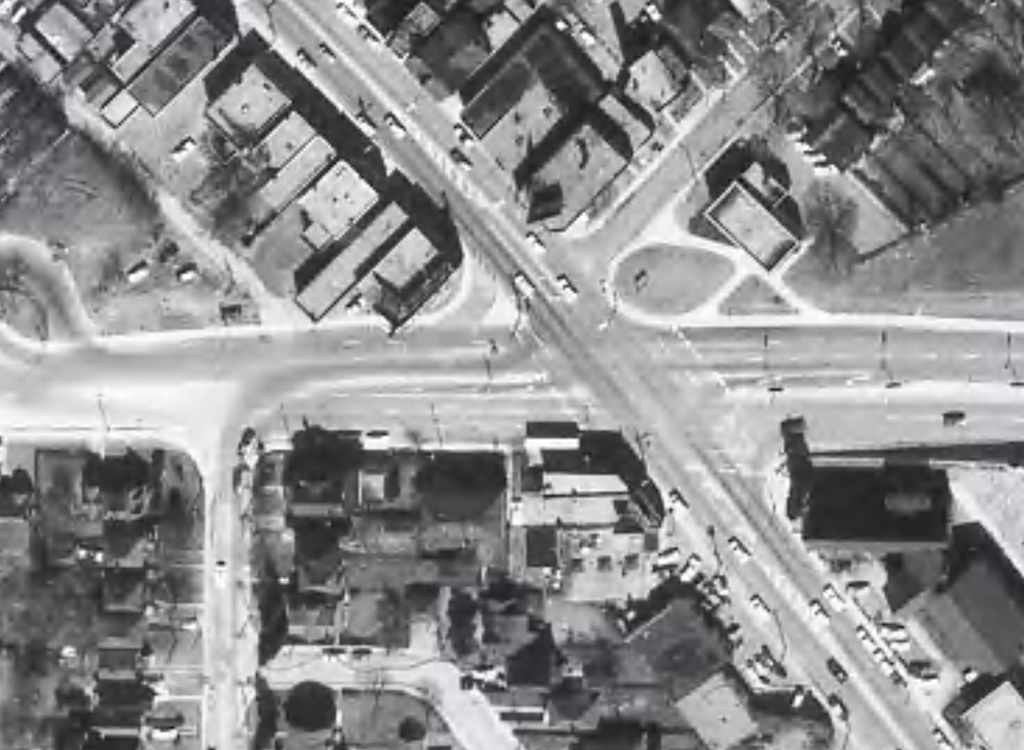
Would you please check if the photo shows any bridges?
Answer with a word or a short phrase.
No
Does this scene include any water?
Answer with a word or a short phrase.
No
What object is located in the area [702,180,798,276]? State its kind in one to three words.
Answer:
gas station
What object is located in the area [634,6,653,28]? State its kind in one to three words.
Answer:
vehicle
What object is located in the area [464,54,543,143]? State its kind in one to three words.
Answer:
building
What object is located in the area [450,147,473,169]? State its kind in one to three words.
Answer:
car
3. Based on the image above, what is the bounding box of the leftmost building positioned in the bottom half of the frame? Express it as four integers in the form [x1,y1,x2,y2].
[0,518,31,560]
